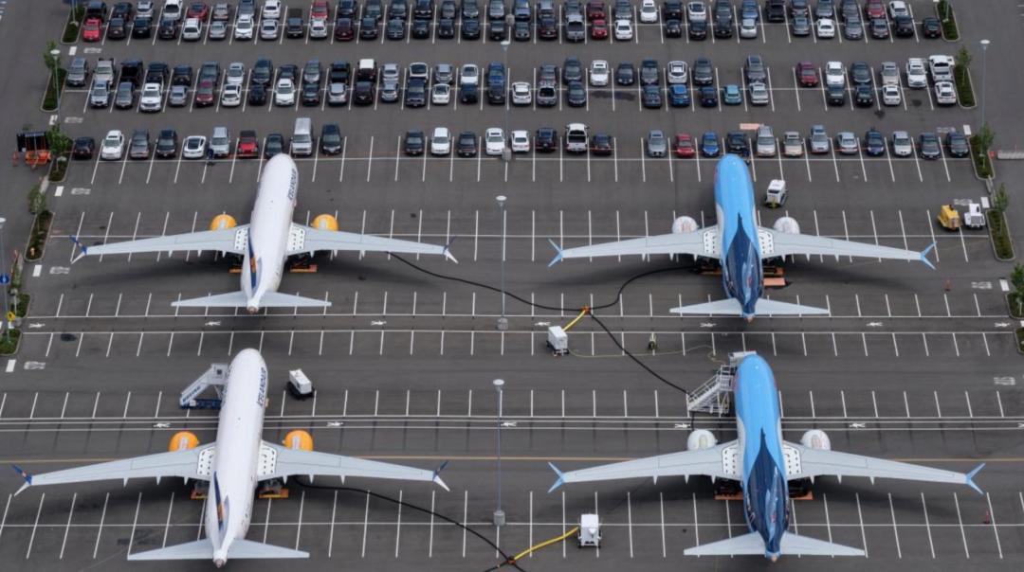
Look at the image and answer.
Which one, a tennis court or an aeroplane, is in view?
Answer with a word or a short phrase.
aeroplane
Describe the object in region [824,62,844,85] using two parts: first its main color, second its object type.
white car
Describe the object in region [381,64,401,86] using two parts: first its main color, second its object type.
gray car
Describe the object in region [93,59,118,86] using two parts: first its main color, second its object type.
gray truck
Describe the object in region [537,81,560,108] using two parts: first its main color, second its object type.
gray truck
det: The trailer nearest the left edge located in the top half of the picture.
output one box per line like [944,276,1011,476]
[18,128,53,172]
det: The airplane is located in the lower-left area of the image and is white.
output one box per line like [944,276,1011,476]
[14,347,451,569]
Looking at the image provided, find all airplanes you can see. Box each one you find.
[14,347,451,569]
[70,153,457,316]
[549,353,986,566]
[546,154,935,324]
